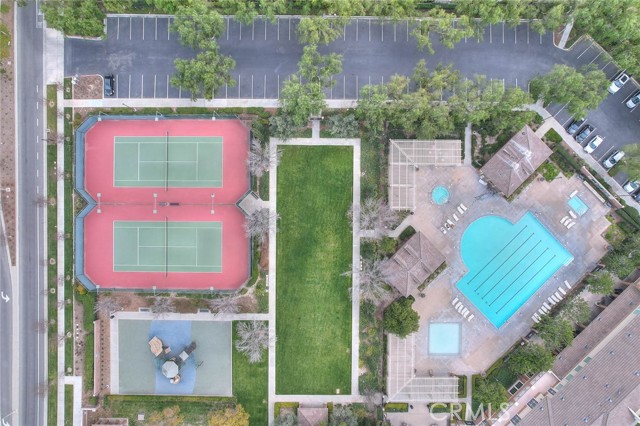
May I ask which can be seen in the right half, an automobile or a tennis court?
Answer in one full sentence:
It is an automobile that can be seen in the right half.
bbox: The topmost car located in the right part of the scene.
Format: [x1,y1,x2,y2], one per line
[608,71,632,95]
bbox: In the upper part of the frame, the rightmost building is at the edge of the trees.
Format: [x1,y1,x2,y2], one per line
[478,125,554,197]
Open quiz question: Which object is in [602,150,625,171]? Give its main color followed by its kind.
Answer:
white car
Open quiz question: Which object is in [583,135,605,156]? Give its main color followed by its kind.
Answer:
white car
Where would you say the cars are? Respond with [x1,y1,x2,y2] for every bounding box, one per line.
[622,176,640,196]
[564,116,586,136]
[626,92,640,112]
[574,122,596,144]
[602,150,625,171]
[608,71,632,95]
[631,191,640,206]
[104,74,116,97]
[583,135,605,156]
